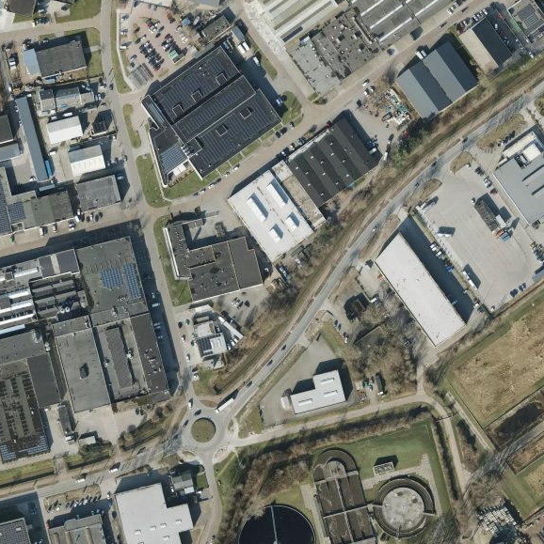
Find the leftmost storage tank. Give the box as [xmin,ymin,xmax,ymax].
[239,498,316,544]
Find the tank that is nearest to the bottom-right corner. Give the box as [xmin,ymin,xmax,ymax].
[372,478,435,538]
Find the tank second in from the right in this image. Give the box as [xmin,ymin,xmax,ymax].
[313,449,376,544]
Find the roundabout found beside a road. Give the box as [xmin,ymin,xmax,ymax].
[181,408,226,452]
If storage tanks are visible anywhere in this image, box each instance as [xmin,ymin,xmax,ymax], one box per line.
[239,498,316,544]
[313,449,376,544]
[372,478,435,538]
